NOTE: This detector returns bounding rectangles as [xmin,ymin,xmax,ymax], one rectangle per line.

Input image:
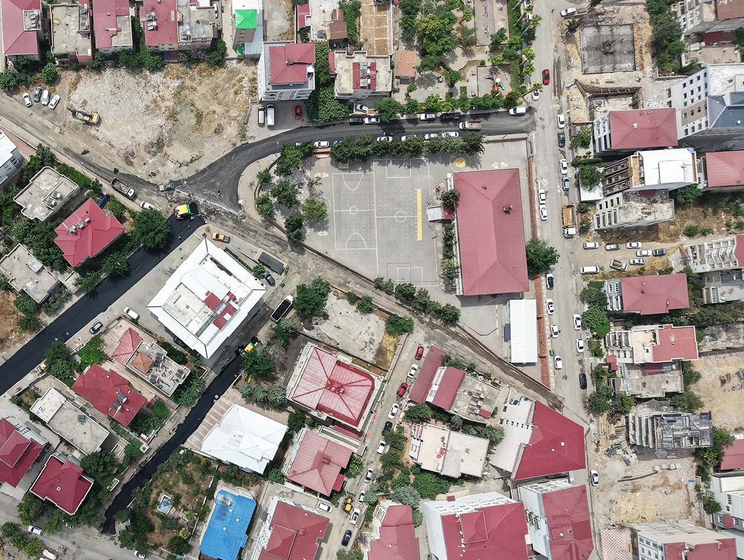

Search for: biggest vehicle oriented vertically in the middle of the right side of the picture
[563,204,576,238]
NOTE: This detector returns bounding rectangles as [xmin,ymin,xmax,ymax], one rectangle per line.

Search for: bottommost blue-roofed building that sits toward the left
[200,480,258,560]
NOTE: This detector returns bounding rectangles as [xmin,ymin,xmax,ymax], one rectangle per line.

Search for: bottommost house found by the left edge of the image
[30,454,95,515]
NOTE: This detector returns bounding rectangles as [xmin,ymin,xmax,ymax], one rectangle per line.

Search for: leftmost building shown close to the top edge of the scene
[1,0,45,64]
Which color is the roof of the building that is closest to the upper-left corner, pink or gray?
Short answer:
pink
